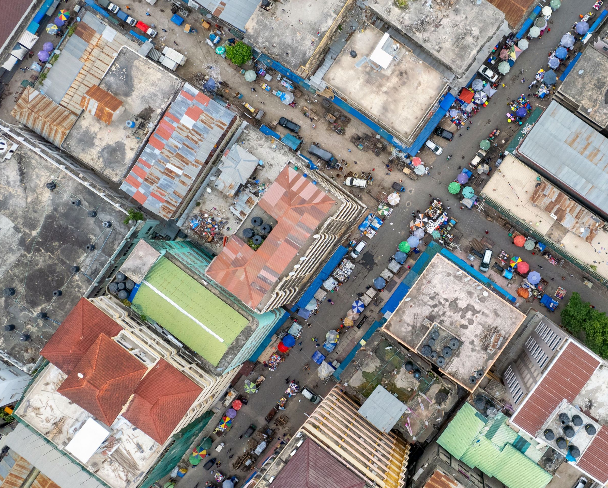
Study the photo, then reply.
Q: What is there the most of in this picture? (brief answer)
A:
buildings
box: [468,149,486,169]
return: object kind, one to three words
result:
car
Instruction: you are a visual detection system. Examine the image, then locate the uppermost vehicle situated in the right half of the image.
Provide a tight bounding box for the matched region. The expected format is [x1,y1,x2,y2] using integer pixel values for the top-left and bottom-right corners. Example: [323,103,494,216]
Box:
[479,67,499,83]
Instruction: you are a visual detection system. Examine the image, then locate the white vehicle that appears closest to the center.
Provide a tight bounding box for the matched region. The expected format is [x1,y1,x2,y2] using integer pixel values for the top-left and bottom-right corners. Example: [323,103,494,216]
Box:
[351,239,367,259]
